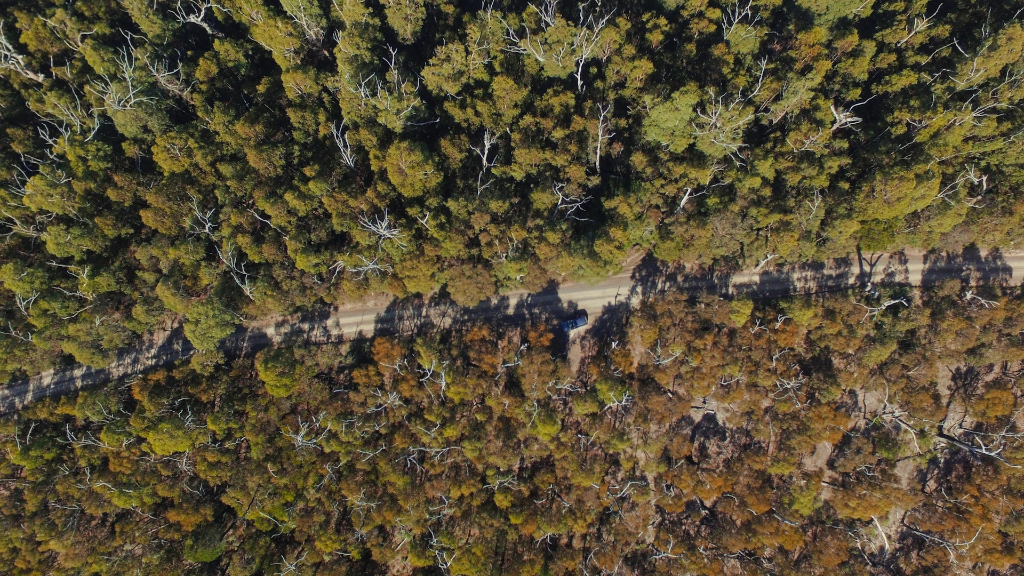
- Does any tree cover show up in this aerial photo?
Yes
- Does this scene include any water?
No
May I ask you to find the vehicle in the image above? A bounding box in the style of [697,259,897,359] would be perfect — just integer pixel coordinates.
[559,313,589,331]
